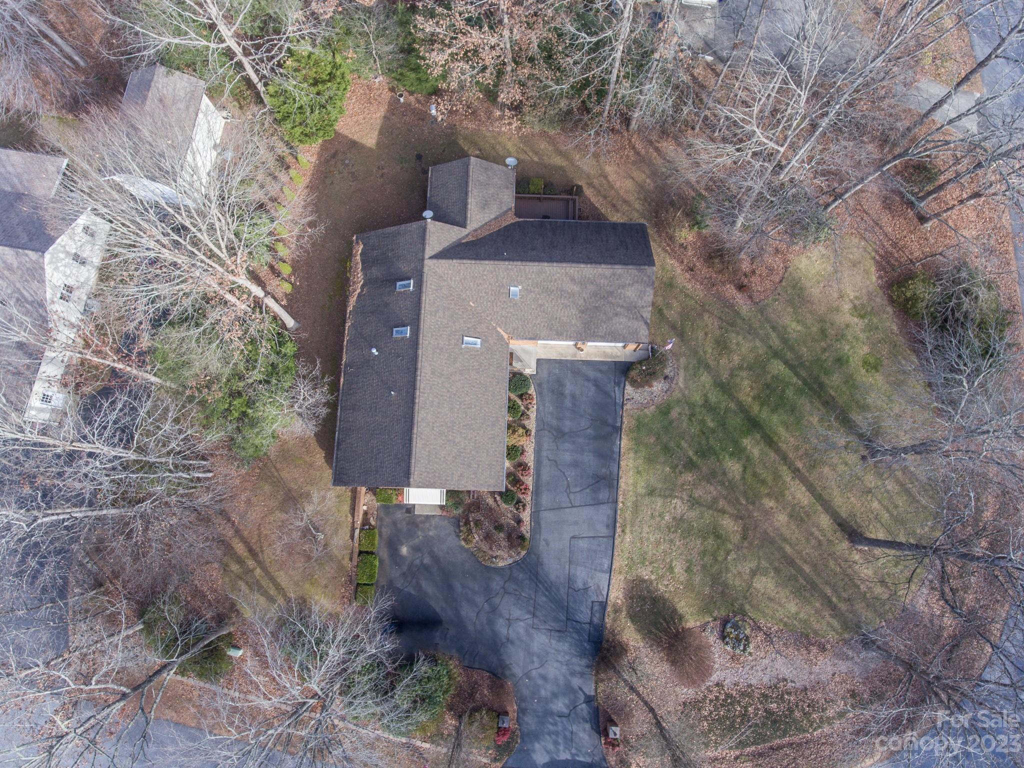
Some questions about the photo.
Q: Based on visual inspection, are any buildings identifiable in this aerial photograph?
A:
Yes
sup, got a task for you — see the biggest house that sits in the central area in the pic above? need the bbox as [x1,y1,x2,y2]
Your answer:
[331,156,656,491]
